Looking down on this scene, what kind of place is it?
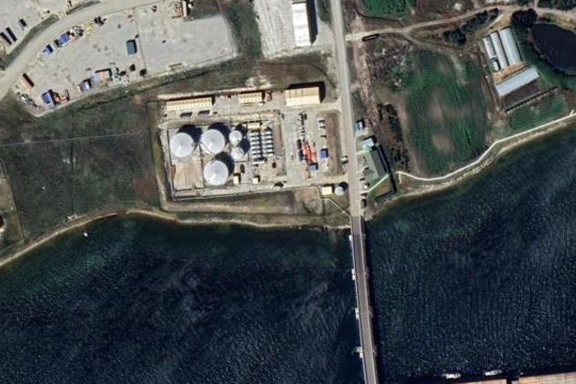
port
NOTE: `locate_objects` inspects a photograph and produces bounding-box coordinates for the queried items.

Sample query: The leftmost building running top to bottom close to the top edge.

[291,0,311,45]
